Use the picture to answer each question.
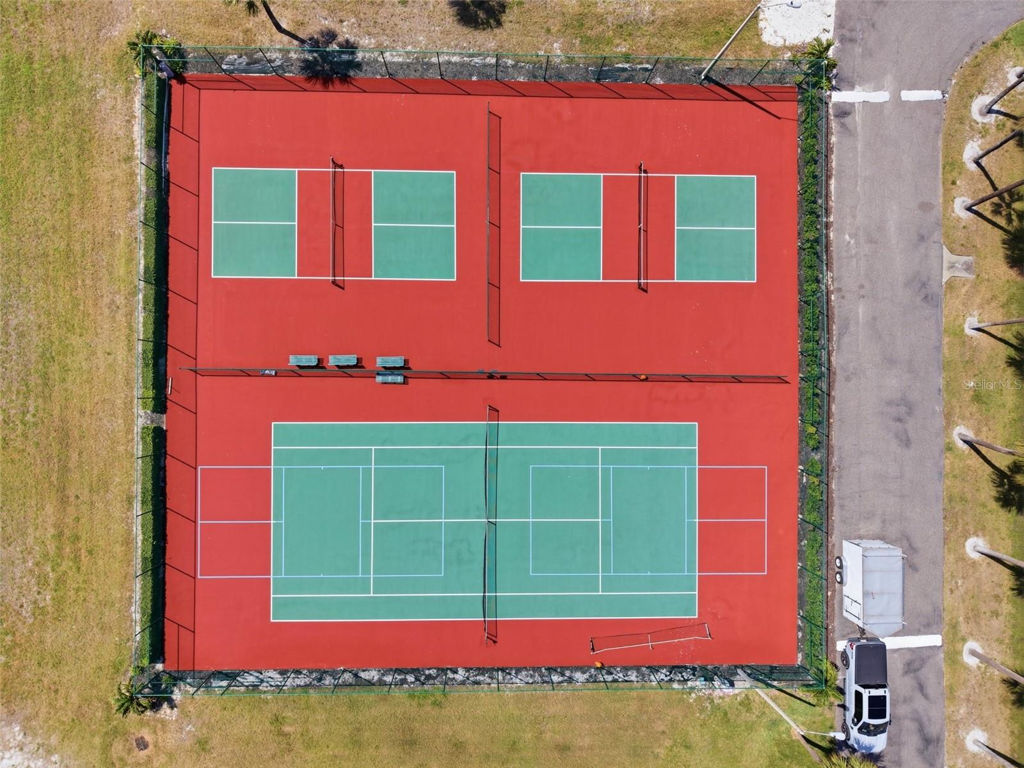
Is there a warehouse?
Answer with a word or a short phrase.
No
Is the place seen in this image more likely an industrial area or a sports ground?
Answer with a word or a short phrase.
sports ground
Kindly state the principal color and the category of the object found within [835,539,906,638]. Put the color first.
white trailer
